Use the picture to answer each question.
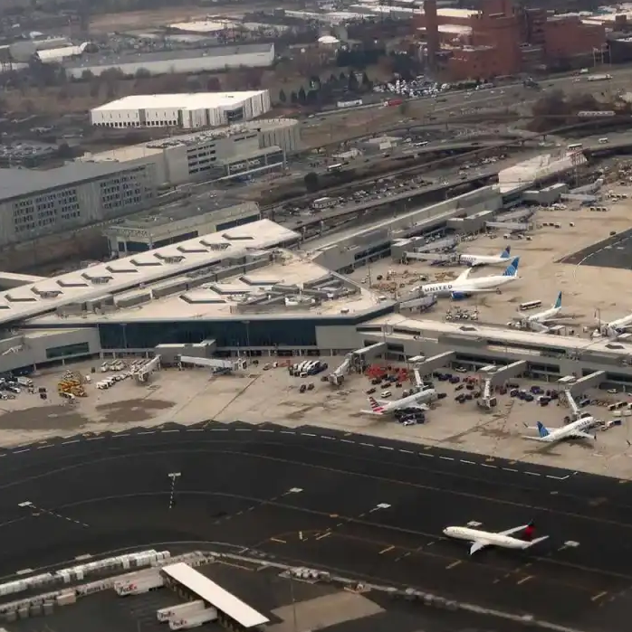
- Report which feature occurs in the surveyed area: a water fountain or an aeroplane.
aeroplane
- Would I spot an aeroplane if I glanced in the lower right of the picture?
Yes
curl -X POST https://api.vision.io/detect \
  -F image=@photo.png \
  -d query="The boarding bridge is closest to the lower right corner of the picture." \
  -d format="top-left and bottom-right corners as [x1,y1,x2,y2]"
[557,366,605,420]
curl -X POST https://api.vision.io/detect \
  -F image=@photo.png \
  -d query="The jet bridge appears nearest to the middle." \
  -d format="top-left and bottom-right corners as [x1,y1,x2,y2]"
[328,337,386,385]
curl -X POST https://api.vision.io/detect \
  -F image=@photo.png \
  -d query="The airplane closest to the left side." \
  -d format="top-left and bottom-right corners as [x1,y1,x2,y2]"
[362,390,435,415]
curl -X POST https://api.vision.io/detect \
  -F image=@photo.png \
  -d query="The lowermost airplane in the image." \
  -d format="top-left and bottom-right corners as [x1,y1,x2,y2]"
[442,516,545,555]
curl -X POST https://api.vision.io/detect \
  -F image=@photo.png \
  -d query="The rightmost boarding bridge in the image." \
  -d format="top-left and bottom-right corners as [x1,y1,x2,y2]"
[603,322,632,343]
